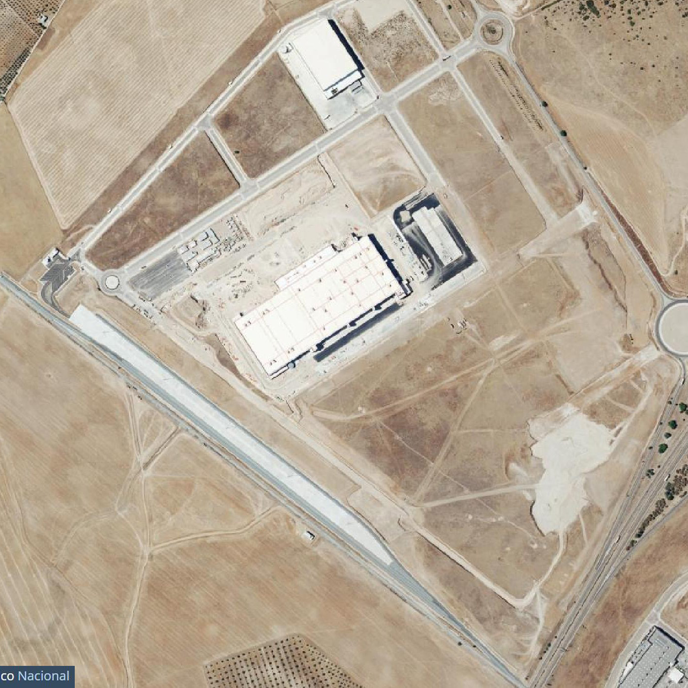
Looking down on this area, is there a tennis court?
No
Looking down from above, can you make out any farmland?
Yes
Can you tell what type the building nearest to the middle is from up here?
warehouse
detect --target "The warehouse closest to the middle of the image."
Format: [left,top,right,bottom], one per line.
[234,234,410,380]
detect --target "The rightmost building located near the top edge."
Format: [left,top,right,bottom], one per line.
[291,20,363,99]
